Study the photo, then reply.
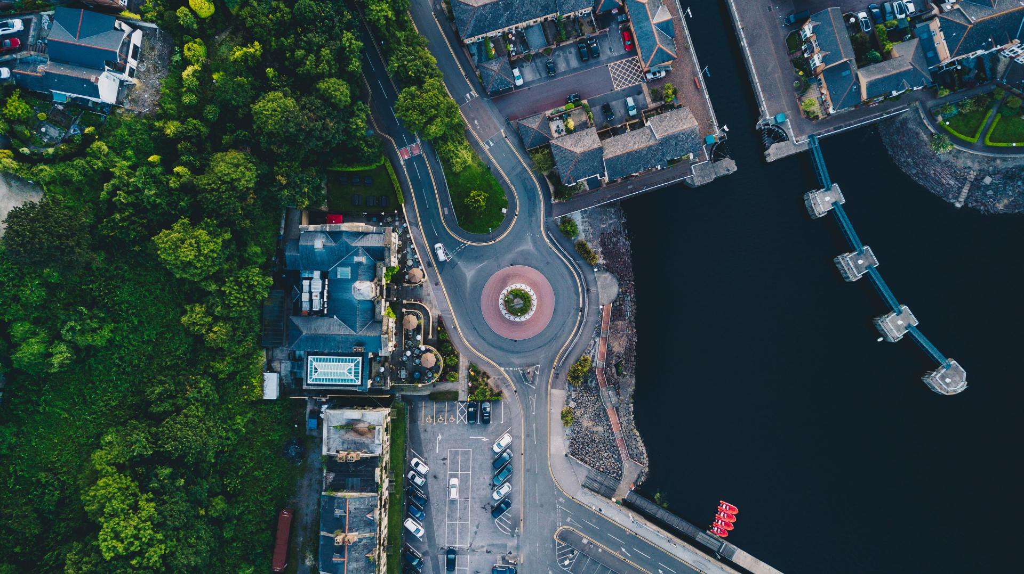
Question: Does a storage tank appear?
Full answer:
No, no storage tank is visible in the view.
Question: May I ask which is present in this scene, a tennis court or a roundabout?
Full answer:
It is a roundabout that can be seen here.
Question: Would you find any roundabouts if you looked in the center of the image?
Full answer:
Yes, you'll find a roundabout in the center of the image.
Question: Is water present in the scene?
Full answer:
Yes, the picture does contain water.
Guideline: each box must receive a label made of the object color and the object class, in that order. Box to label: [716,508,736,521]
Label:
red boat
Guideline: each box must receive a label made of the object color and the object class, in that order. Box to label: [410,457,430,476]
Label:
white car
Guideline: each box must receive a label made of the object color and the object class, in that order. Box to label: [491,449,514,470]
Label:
blue car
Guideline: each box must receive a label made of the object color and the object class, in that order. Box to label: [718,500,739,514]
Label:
red boat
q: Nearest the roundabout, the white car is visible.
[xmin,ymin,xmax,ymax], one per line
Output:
[434,241,447,263]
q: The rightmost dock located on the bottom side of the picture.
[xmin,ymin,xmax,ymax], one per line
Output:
[719,535,787,574]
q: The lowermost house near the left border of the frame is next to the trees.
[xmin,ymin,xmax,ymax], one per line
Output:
[13,60,115,103]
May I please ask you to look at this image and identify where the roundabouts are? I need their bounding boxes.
[480,265,555,340]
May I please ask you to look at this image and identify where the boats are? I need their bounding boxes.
[713,516,734,529]
[710,524,729,536]
[718,500,739,514]
[716,508,736,521]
